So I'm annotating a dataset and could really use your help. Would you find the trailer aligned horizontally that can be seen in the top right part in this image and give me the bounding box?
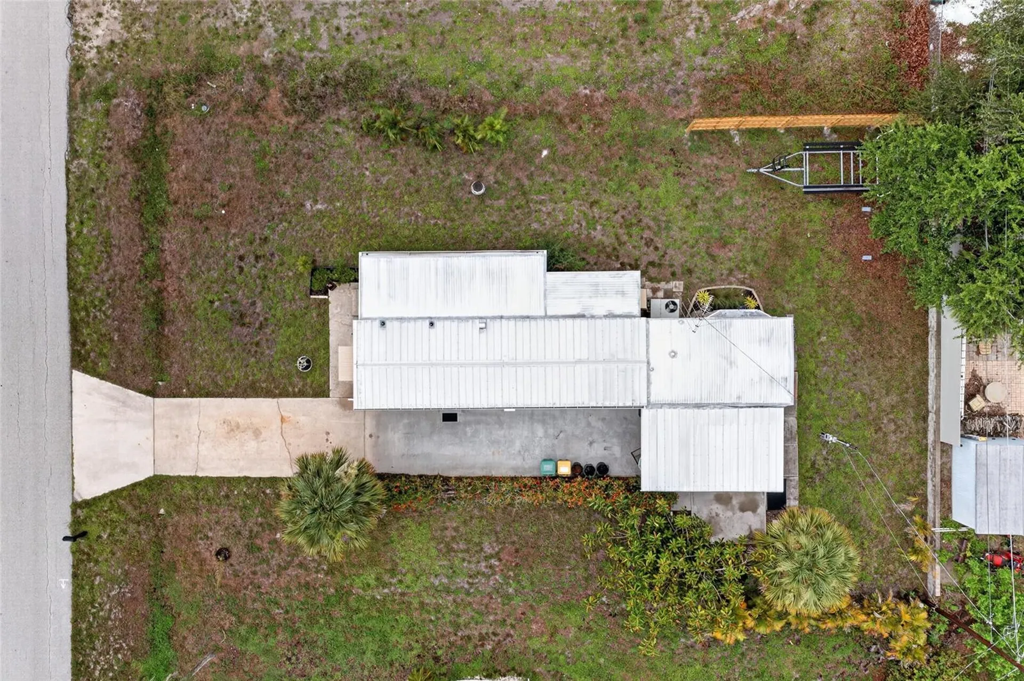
[747,132,889,197]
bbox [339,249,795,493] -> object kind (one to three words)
house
